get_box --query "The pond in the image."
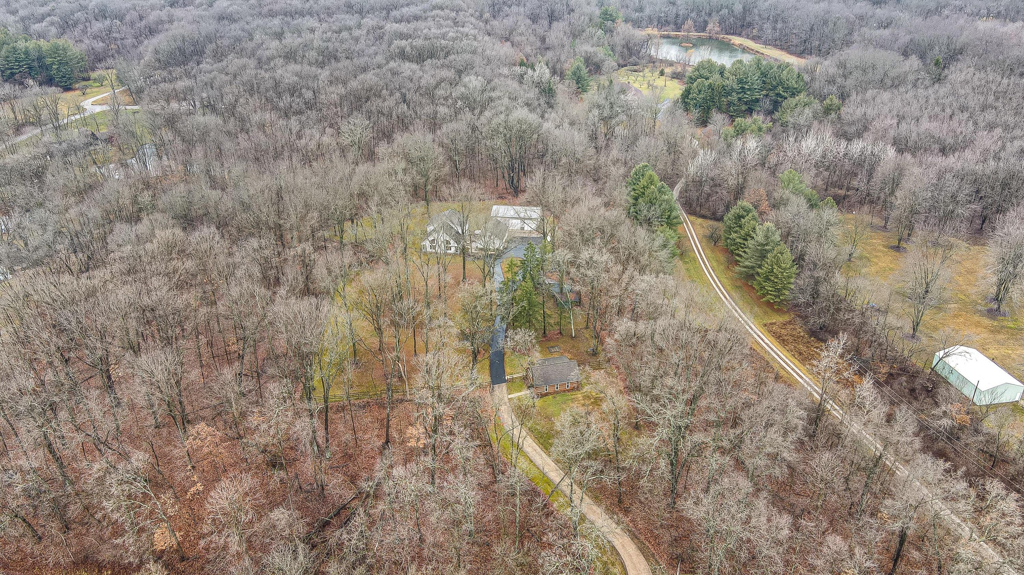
[647,36,759,69]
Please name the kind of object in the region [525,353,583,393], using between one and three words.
building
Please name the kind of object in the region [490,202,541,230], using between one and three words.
barn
